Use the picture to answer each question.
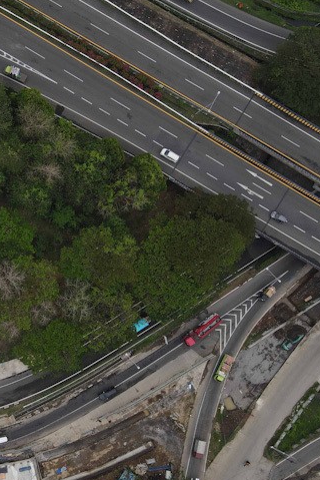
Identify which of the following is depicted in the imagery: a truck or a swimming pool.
truck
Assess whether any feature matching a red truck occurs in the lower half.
Yes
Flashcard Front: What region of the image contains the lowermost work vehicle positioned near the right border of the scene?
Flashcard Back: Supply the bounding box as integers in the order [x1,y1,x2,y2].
[279,332,311,353]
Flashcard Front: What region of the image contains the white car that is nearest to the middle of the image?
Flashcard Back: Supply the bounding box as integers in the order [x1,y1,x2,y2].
[160,146,183,163]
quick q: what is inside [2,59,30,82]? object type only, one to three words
truck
